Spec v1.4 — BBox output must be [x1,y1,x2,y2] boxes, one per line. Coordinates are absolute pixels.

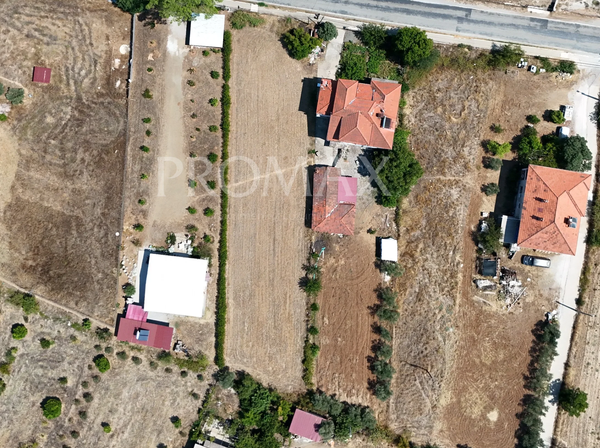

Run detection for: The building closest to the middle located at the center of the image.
[311,166,358,235]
